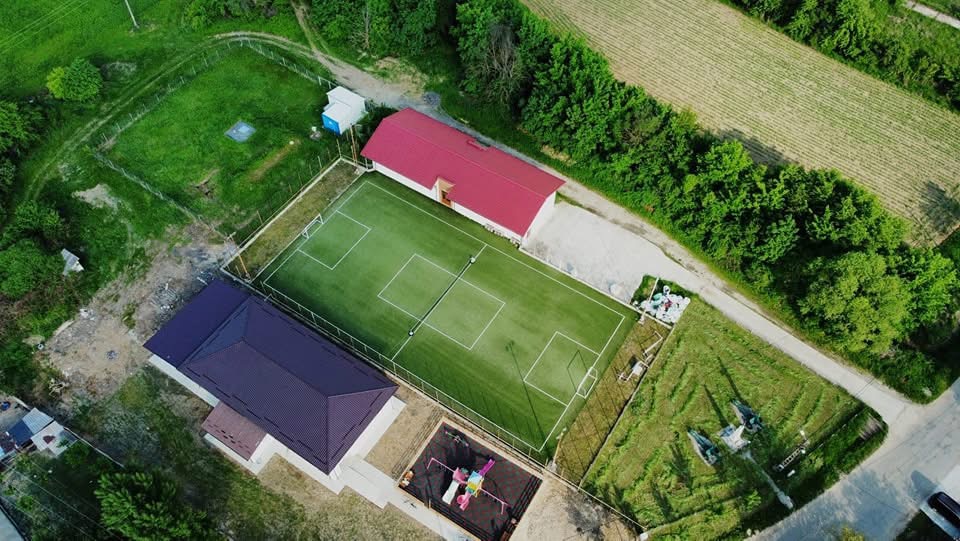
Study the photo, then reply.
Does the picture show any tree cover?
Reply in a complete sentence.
Yes, tree cover can be seen from above here.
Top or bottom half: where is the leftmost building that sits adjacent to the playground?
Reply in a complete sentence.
The leftmost building that sits adjacent to the playground is in the bottom half of the image.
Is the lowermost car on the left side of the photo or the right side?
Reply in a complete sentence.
The lowermost car is on the right side of the image.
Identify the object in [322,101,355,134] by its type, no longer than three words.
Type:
building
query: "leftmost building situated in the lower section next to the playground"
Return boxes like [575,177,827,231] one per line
[144,279,398,477]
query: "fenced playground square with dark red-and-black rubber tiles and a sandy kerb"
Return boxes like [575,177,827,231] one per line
[394,417,547,541]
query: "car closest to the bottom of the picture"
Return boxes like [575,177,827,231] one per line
[928,495,960,534]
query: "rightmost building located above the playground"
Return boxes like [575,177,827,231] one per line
[361,109,564,248]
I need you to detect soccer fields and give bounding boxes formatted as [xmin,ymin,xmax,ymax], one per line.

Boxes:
[248,170,643,469]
